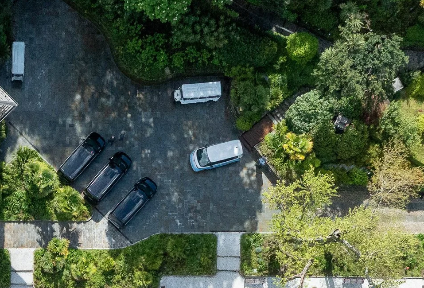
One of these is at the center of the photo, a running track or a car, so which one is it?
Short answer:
car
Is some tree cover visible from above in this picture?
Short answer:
Yes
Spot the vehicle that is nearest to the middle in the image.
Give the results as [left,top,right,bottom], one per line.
[187,138,247,176]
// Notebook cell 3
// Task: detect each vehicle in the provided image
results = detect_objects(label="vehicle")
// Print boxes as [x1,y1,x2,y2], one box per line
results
[104,176,157,235]
[79,153,131,211]
[172,80,227,112]
[187,138,247,176]
[55,129,107,188]
[11,39,25,89]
